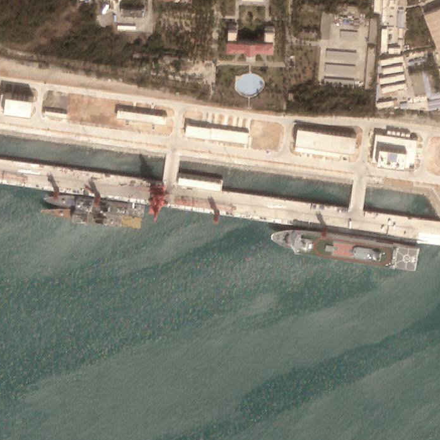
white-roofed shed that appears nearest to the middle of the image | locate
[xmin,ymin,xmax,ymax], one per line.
[179,174,223,191]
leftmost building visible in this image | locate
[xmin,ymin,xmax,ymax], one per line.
[3,93,34,118]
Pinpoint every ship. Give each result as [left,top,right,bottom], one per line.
[44,193,144,217]
[42,207,143,228]
[271,221,420,270]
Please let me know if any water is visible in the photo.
Yes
